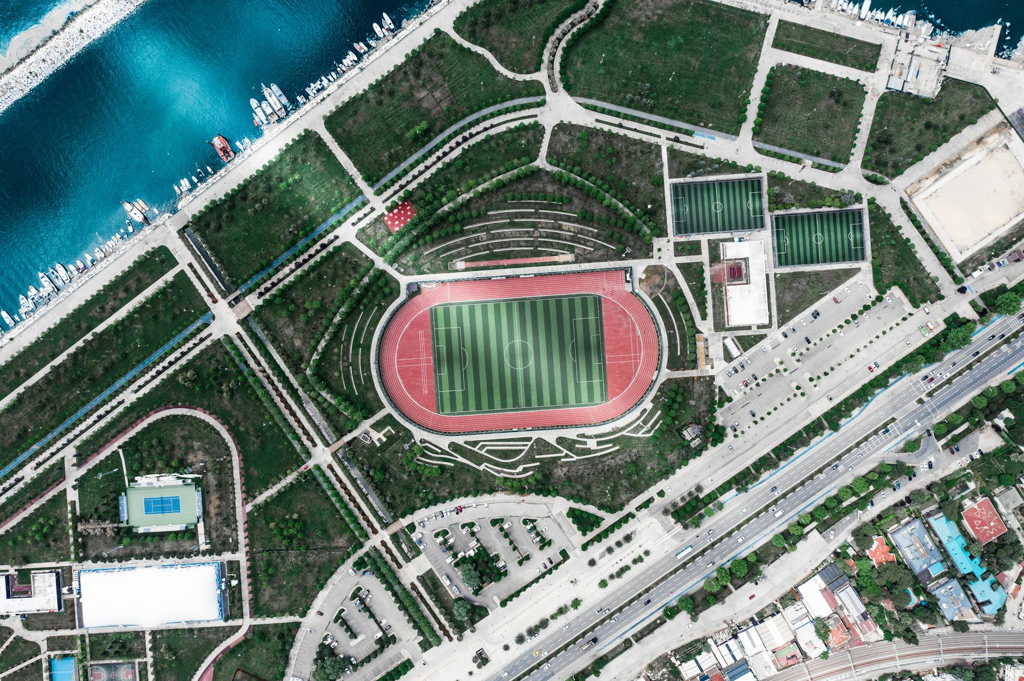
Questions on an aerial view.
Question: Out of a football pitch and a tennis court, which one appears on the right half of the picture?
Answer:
football pitch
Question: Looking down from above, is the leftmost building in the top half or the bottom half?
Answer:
bottom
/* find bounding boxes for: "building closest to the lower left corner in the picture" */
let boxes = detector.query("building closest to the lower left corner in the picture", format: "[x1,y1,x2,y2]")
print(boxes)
[0,566,68,614]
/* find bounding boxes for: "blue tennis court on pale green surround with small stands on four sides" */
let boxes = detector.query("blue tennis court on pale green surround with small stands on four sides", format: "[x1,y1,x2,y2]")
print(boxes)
[118,476,204,537]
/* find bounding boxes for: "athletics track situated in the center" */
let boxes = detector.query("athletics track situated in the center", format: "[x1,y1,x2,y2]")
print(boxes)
[380,271,659,434]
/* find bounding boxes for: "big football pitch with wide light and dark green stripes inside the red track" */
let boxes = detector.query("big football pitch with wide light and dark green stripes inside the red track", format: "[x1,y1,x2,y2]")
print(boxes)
[428,294,608,416]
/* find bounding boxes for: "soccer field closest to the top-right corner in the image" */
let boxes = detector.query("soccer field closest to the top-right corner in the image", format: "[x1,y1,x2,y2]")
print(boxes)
[771,206,872,269]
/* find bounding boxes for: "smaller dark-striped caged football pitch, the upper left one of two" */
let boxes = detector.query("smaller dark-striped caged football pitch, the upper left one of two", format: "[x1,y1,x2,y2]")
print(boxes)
[669,174,770,238]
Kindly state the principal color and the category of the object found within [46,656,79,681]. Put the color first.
blue tennis court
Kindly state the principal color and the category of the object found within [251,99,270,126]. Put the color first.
white boat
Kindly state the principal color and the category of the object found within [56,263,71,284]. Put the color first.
white boat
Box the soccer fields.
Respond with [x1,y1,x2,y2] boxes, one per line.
[428,294,608,416]
[771,206,872,269]
[669,174,770,238]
